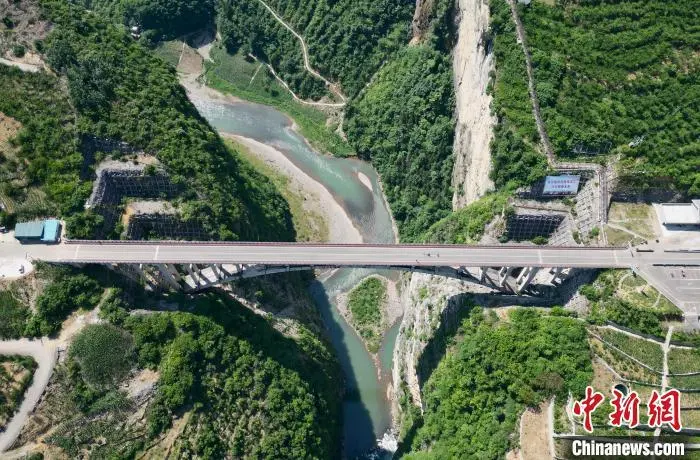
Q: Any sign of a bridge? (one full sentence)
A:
Yes, there is a bridge in the image.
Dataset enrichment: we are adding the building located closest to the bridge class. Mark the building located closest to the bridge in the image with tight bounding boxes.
[42,219,64,244]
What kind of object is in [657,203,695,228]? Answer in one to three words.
building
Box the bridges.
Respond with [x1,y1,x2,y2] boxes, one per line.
[59,241,636,290]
